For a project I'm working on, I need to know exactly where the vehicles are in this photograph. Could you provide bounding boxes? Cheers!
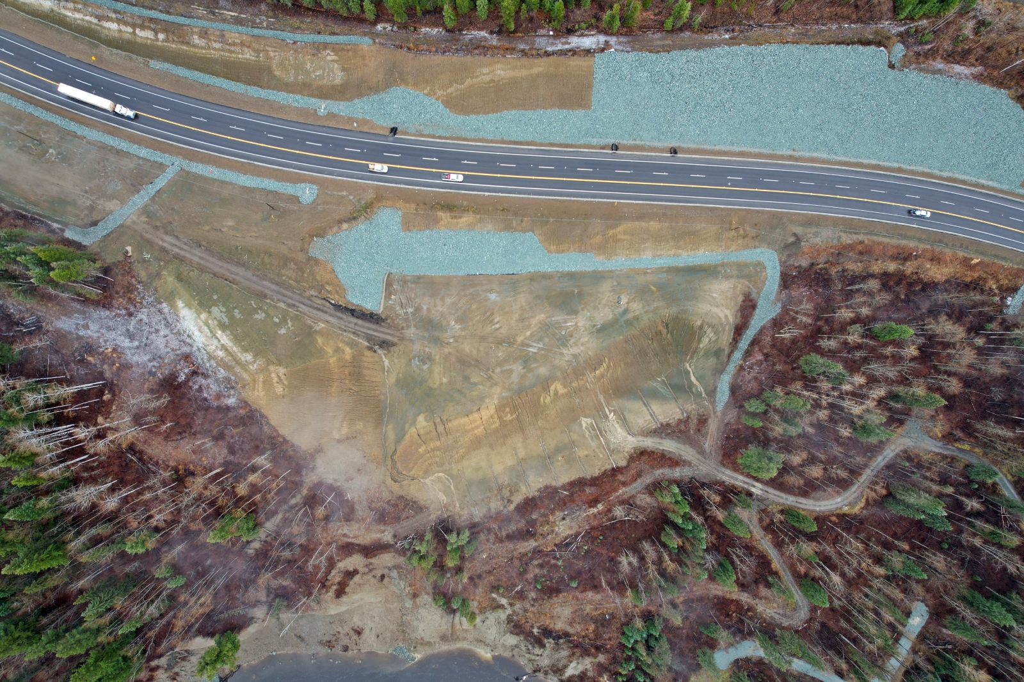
[910,207,932,217]
[441,172,462,181]
[49,79,133,118]
[366,162,388,172]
